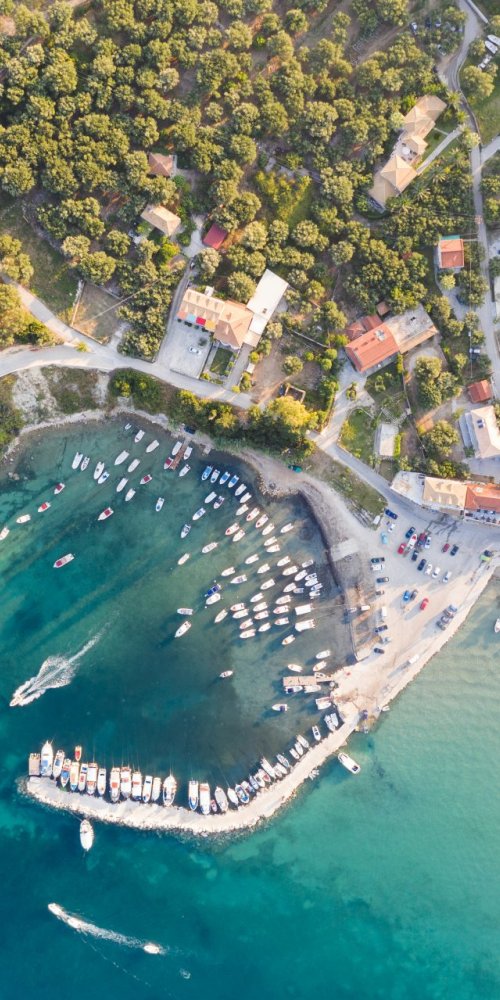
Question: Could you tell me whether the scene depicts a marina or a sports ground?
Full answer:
What you see here is a marina.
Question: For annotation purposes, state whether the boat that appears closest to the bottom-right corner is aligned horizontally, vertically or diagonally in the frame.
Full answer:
The boat that appears closest to the bottom-right corner runs diagonally in the image.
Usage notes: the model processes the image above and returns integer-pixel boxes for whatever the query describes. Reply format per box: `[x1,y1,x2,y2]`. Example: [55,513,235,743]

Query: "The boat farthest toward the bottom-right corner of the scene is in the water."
[339,753,362,777]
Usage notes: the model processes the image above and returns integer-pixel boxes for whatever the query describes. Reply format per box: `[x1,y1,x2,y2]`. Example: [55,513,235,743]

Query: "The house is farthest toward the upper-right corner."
[367,96,446,212]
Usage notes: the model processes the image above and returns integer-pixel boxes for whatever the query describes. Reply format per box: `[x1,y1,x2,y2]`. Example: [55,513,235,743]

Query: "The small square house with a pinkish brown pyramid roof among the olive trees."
[149,152,176,177]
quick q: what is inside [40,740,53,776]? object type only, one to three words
boat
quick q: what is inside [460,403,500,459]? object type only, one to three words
house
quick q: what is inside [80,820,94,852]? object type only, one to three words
boat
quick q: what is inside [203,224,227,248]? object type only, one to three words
shed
